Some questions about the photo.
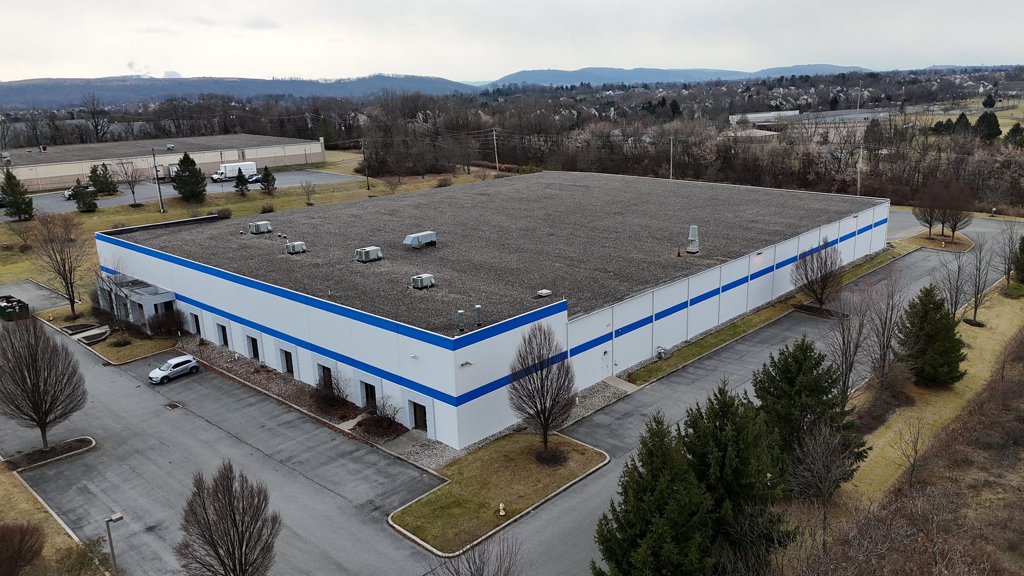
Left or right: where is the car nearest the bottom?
left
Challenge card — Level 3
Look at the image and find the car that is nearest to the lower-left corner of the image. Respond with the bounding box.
[148,356,201,385]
